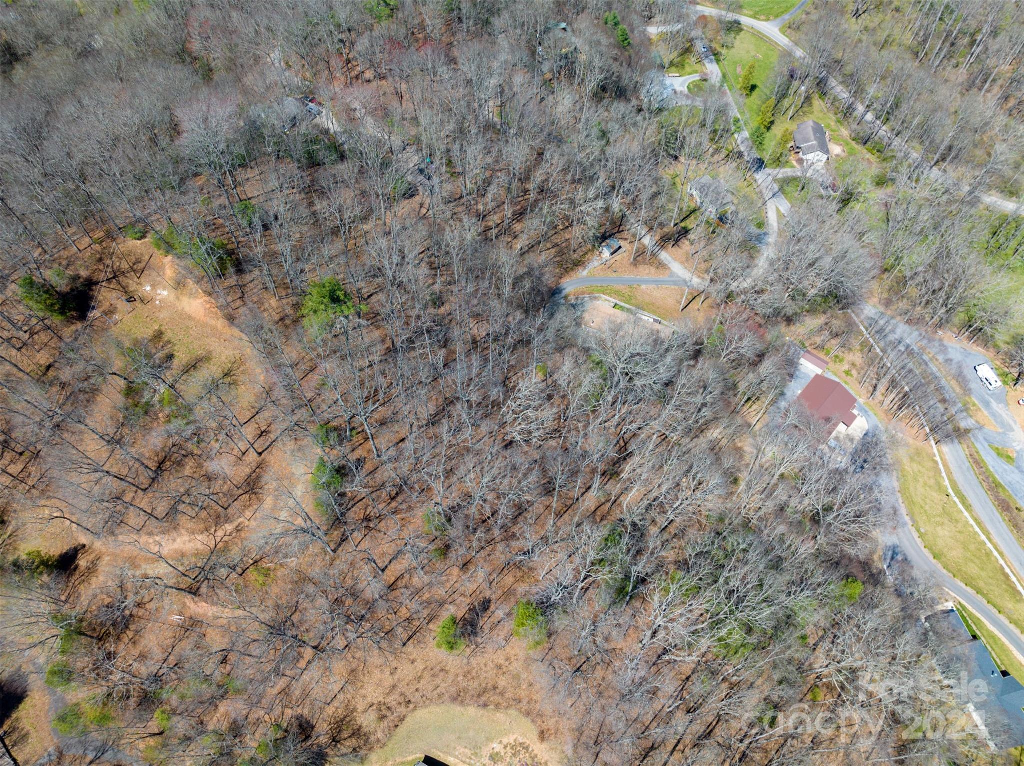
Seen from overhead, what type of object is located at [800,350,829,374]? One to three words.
building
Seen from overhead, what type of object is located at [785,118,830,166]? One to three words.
house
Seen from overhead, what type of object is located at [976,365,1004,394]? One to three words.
vehicle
